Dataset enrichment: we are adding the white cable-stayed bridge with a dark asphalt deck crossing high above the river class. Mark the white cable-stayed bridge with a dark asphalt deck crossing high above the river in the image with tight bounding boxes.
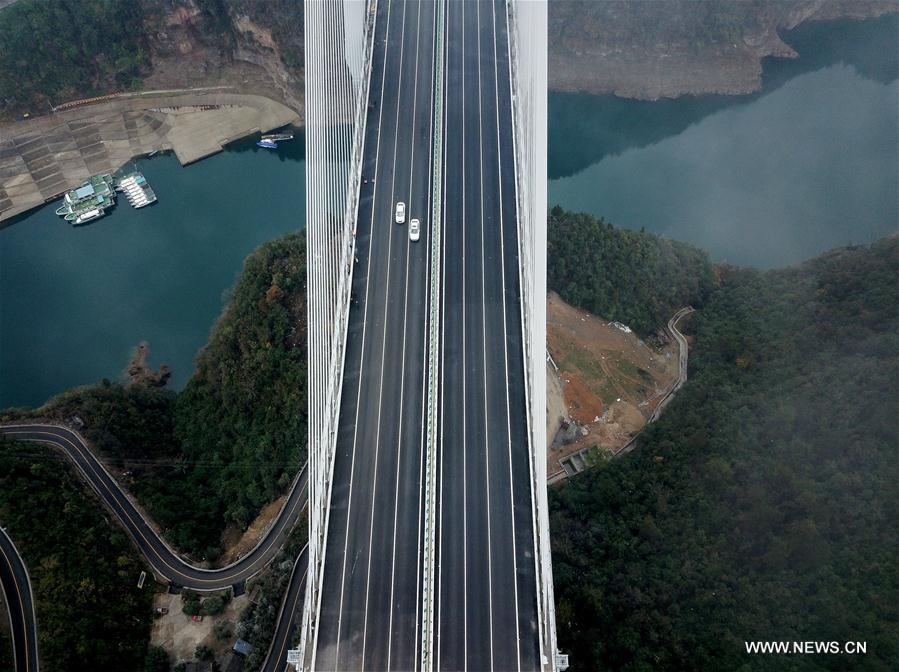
[284,0,573,672]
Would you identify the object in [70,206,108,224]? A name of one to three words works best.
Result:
boat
